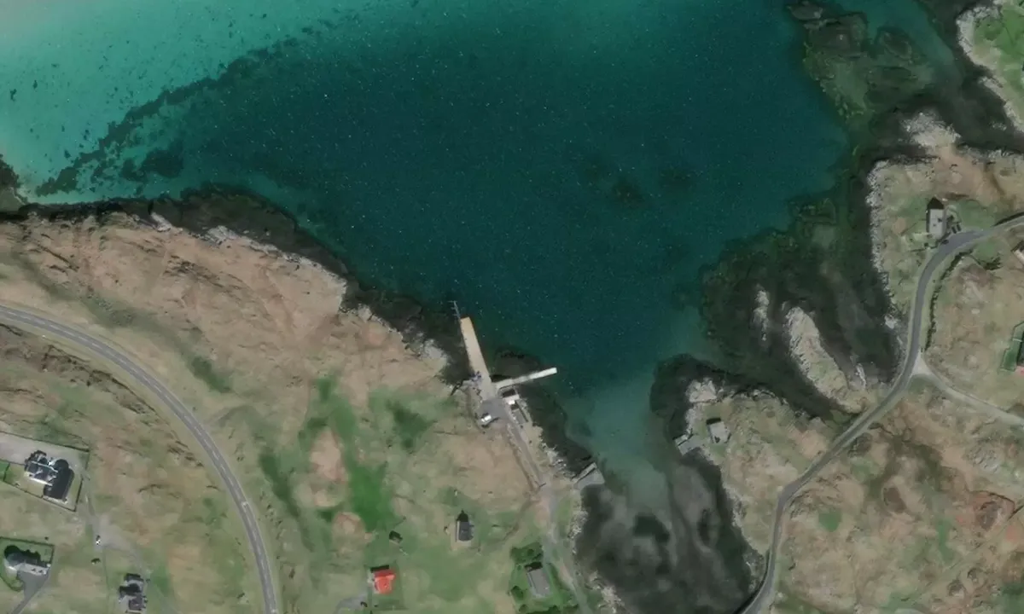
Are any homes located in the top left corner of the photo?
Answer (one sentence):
No, looking in the top left corner of the photo, there is no home.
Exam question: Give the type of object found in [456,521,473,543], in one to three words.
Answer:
house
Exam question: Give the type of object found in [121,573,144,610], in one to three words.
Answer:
house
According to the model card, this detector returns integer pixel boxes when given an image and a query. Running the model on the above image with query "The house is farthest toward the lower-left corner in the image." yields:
[2,551,48,576]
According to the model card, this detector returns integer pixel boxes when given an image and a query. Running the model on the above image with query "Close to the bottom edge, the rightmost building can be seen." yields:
[526,569,550,598]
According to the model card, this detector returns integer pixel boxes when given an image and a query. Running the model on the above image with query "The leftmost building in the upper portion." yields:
[927,208,942,238]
